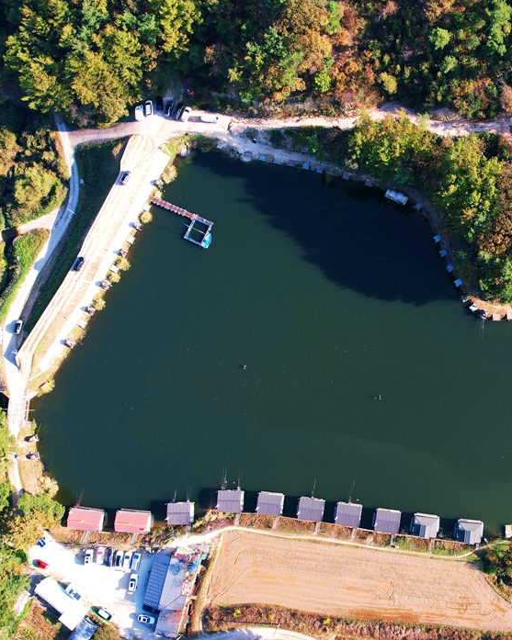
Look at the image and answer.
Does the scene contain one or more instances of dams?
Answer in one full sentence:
Yes, this view includes a dam.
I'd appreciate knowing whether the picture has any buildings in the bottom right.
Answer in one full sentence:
Yes, a building can be seen in the bottom right.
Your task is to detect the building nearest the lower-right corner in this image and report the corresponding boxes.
[455,515,484,543]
